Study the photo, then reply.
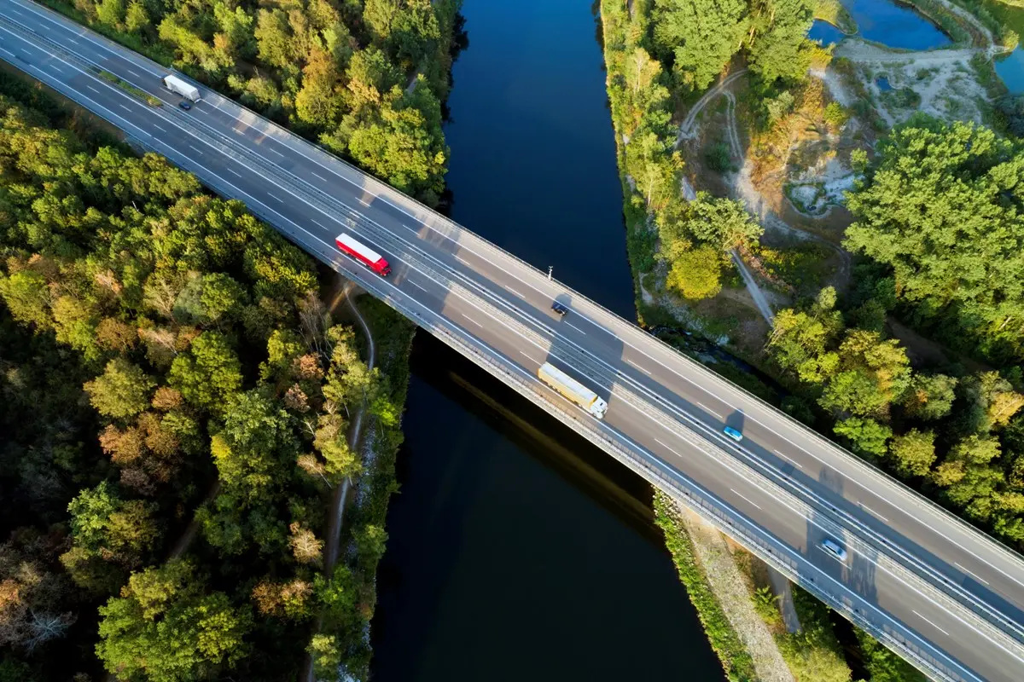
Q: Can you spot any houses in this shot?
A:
No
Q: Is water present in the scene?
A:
Yes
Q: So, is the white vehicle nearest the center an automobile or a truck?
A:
truck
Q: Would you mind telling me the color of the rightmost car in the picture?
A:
blue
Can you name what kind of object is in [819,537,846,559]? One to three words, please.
car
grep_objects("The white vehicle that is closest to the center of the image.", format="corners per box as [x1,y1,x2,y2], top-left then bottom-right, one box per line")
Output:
[540,362,609,418]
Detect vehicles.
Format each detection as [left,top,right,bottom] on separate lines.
[819,537,846,559]
[335,232,389,276]
[178,101,191,109]
[540,362,609,418]
[550,303,570,317]
[721,425,742,442]
[162,73,203,101]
